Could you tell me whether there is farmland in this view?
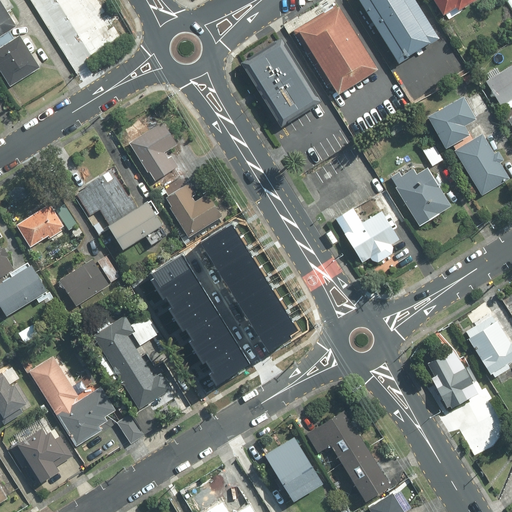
No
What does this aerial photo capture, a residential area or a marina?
residential area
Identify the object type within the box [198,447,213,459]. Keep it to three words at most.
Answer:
vehicle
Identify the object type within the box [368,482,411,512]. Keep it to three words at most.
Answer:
house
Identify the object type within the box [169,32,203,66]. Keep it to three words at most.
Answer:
roundabout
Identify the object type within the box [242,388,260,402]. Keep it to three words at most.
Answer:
vehicle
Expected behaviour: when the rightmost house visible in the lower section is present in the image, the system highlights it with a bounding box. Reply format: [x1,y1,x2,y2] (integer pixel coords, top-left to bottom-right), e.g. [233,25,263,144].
[466,314,512,378]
